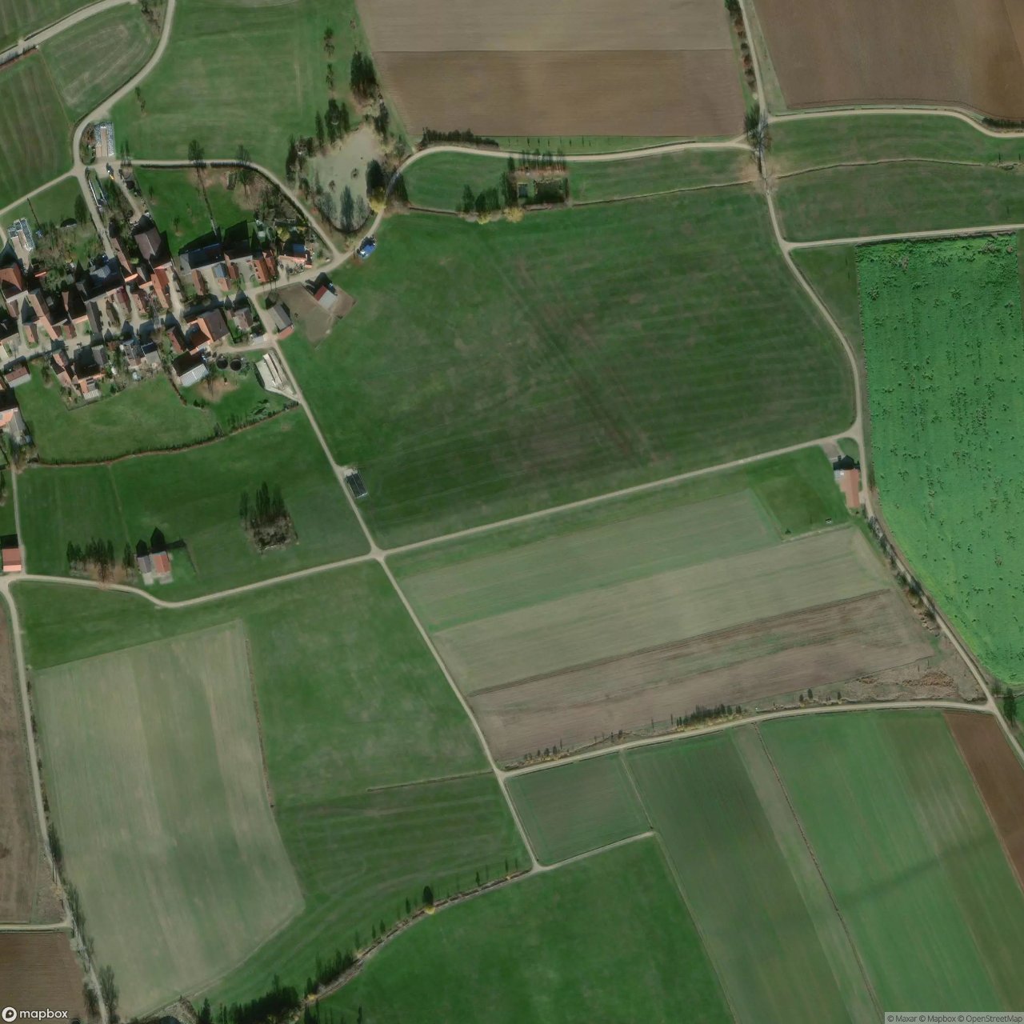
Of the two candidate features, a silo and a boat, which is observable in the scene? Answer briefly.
silo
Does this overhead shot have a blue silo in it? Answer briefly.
No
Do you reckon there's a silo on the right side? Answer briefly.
No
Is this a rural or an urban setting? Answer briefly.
rural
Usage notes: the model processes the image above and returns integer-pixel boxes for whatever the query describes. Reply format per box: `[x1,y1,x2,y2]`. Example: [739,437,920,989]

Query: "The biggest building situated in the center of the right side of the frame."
[838,464,861,508]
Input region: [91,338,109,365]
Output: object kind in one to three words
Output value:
house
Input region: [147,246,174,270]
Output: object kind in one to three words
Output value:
barn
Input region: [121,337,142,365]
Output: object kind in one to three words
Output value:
house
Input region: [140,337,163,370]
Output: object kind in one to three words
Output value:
shed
